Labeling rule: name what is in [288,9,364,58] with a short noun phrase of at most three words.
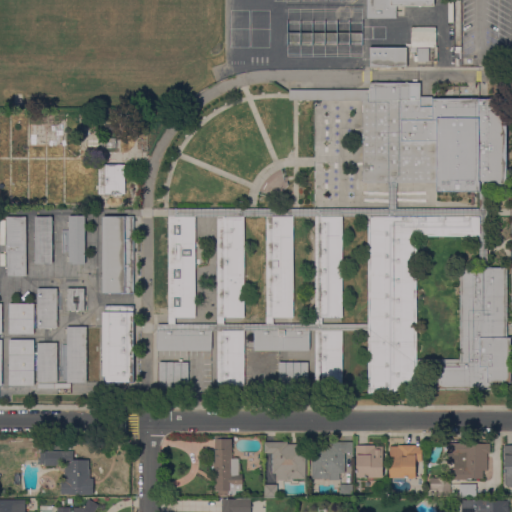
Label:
sports court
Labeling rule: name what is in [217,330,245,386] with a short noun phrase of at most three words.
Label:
building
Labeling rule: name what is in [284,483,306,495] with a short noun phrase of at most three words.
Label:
swimming pool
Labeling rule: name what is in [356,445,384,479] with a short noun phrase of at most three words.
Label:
house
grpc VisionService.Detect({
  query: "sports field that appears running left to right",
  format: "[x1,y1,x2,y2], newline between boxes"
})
[0,0,226,106]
